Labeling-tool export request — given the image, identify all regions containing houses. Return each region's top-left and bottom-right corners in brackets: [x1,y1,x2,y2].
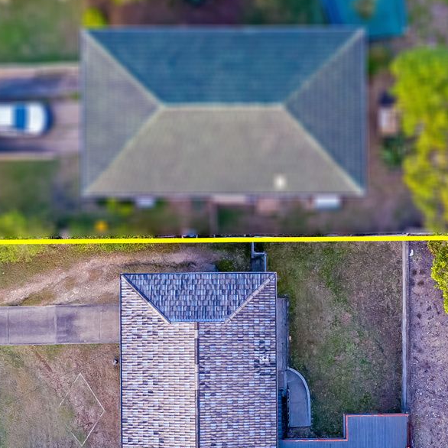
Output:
[119,271,278,448]
[80,25,368,198]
